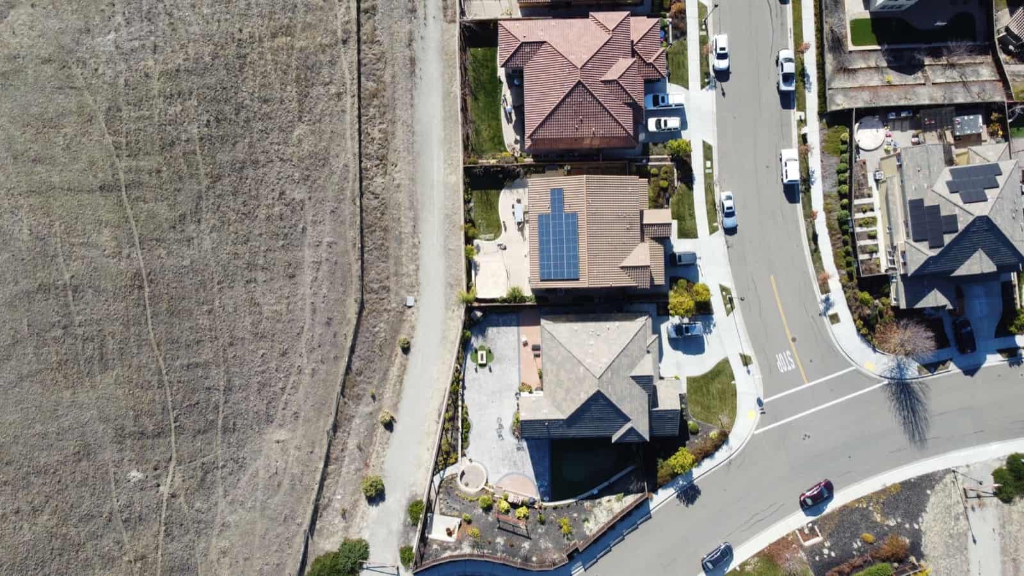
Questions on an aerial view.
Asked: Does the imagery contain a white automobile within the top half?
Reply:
Yes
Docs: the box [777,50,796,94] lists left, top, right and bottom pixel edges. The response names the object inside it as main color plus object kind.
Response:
white vehicle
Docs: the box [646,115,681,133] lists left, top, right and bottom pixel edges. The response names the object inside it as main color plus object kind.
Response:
white car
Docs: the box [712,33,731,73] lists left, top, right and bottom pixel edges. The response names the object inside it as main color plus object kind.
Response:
white car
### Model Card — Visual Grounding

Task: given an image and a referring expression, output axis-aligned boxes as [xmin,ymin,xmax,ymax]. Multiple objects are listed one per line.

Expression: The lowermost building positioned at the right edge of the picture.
[877,142,1024,309]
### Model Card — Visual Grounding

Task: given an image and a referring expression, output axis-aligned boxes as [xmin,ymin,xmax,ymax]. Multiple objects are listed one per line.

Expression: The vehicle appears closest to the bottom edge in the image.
[699,541,734,574]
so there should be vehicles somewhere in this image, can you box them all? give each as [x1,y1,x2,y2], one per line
[777,50,796,94]
[646,115,681,133]
[666,321,704,339]
[719,191,738,230]
[797,479,832,508]
[645,91,685,109]
[665,249,699,266]
[780,148,800,186]
[699,541,734,574]
[712,33,731,73]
